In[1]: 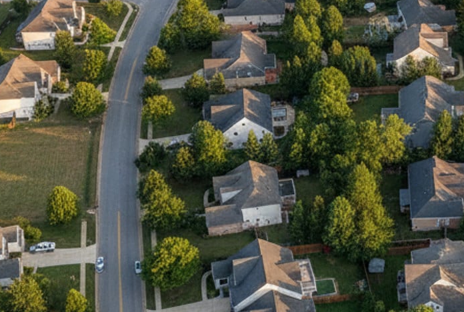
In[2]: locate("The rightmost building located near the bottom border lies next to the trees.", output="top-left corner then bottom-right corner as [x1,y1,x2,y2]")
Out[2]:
[404,246,464,312]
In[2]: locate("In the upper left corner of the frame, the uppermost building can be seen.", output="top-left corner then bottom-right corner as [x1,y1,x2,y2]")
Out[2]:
[20,0,93,48]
